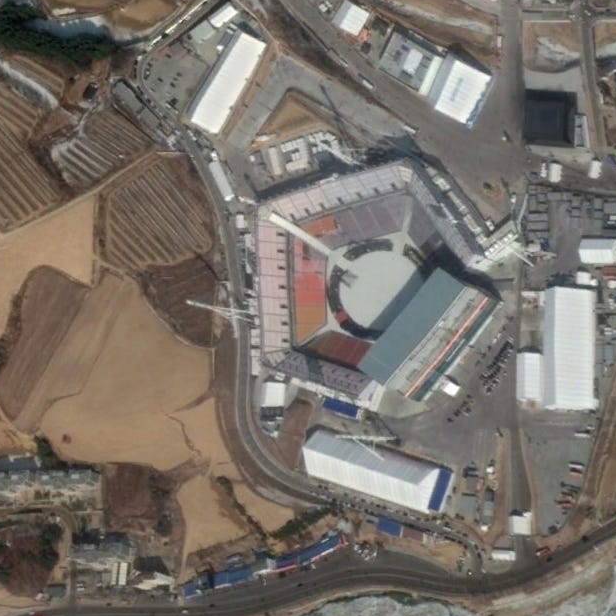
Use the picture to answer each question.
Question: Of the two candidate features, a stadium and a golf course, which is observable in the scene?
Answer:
stadium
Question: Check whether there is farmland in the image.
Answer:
Yes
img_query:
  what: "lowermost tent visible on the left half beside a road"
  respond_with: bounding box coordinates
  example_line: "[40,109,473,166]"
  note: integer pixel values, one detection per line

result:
[187,28,270,134]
